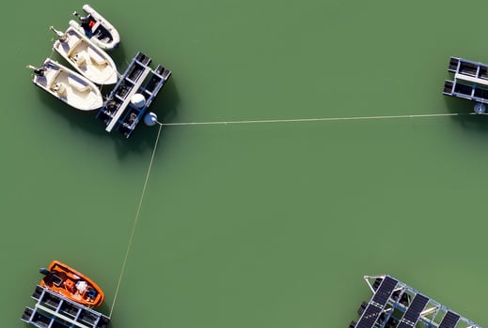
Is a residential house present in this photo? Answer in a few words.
No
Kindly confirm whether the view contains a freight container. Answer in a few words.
No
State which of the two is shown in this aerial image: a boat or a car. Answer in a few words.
boat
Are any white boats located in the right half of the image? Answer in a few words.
No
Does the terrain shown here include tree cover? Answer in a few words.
No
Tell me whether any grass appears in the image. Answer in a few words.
No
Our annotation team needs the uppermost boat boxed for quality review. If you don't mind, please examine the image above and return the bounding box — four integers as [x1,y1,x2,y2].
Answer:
[68,0,117,49]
